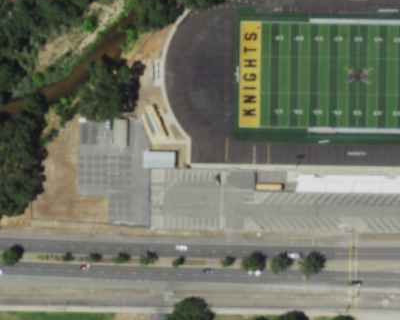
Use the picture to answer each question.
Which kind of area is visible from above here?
sports ground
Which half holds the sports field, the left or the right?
right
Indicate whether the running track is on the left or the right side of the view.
right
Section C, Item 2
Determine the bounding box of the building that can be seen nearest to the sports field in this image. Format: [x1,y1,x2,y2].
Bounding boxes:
[228,170,258,190]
